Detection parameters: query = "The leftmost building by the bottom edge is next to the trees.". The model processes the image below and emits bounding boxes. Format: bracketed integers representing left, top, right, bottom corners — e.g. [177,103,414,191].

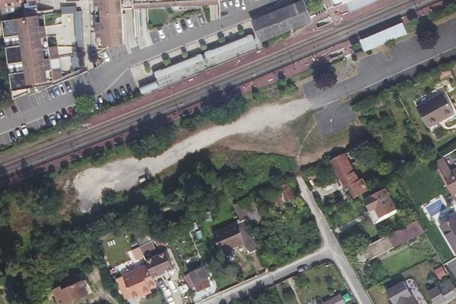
[53,280,91,304]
